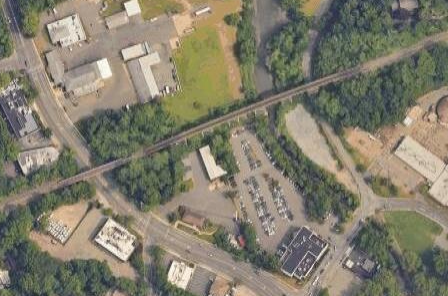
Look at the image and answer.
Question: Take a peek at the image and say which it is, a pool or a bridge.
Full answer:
The one in the frame is a bridge.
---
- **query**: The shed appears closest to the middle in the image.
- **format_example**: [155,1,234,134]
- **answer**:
[199,147,226,181]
